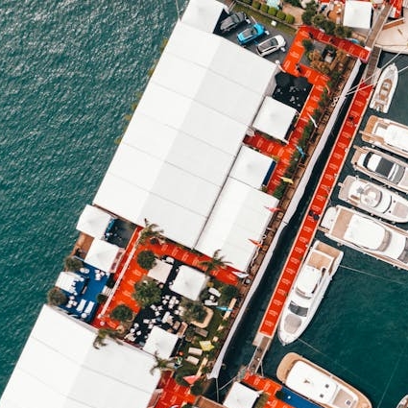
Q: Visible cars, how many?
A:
3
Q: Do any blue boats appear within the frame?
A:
No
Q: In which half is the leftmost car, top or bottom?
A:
top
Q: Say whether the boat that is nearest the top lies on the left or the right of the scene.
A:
right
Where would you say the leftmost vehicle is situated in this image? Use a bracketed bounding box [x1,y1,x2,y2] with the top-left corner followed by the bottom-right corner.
[220,11,246,33]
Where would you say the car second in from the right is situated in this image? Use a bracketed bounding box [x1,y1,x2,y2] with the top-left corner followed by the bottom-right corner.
[235,21,265,45]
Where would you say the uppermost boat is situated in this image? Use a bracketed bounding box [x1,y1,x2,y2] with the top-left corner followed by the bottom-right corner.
[372,64,398,117]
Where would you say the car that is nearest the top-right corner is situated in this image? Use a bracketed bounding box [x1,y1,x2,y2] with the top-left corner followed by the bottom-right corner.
[255,34,288,57]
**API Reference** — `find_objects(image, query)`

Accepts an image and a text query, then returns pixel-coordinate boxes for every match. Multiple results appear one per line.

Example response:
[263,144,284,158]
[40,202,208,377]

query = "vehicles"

[235,21,265,45]
[255,34,288,57]
[220,11,246,33]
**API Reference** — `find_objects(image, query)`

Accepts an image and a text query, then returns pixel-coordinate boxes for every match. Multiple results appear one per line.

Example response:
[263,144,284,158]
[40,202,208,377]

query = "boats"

[338,180,408,223]
[355,119,408,157]
[372,64,398,117]
[353,146,408,192]
[280,241,392,344]
[264,356,391,408]
[321,212,408,269]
